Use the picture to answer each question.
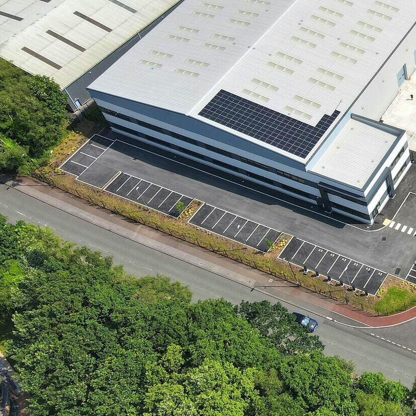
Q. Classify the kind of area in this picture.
industrial area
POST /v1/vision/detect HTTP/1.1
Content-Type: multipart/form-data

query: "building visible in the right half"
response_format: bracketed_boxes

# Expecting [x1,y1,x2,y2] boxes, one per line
[84,0,416,222]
